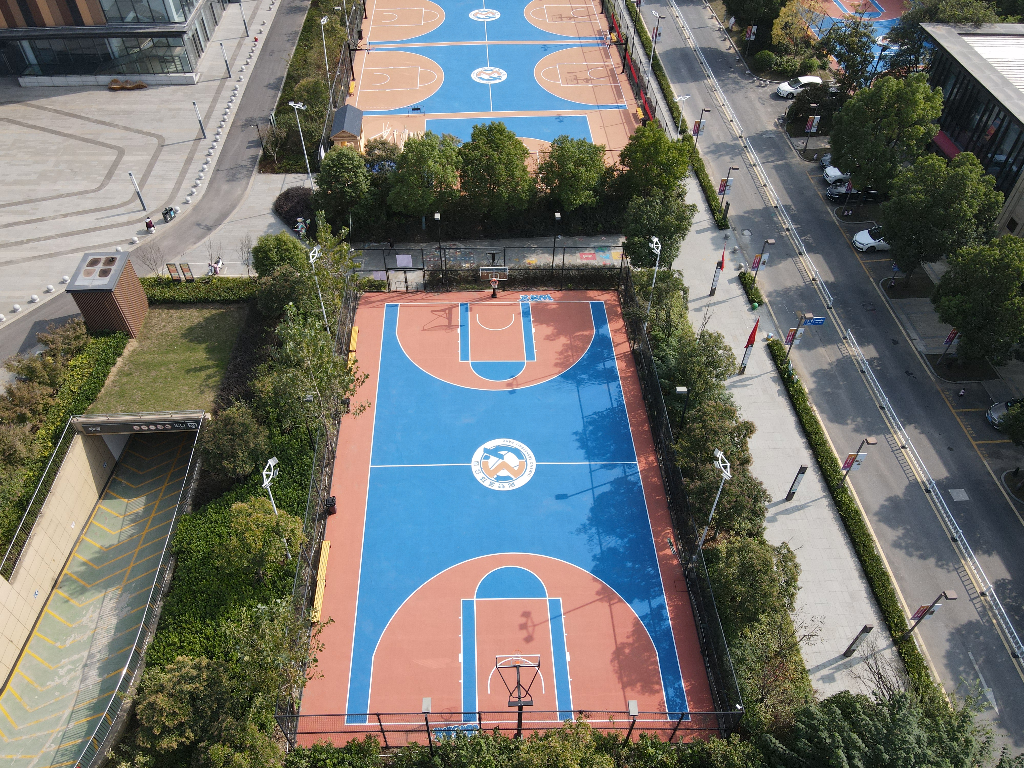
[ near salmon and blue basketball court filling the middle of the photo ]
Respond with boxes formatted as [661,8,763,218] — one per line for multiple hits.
[294,289,722,749]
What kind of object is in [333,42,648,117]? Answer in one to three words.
basketball court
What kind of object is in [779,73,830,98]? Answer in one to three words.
car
